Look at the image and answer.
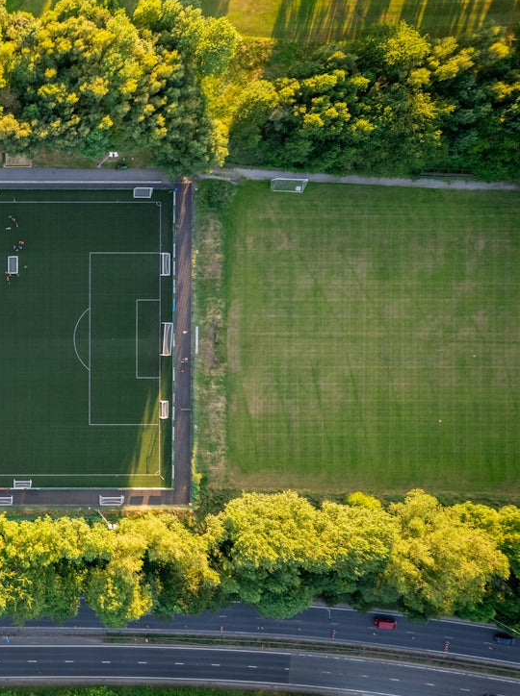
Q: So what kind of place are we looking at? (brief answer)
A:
sports ground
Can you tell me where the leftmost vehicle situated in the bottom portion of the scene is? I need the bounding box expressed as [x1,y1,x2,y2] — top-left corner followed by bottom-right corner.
[376,619,397,632]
